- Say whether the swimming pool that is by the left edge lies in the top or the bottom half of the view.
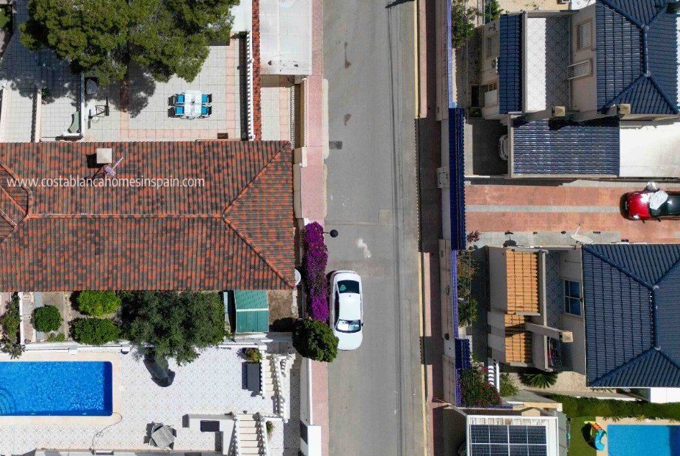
bottom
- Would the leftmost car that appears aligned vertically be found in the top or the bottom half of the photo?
bottom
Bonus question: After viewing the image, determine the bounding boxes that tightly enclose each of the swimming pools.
[604,421,680,456]
[0,353,121,425]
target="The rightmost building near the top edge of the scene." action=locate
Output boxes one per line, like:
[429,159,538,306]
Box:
[483,0,680,124]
